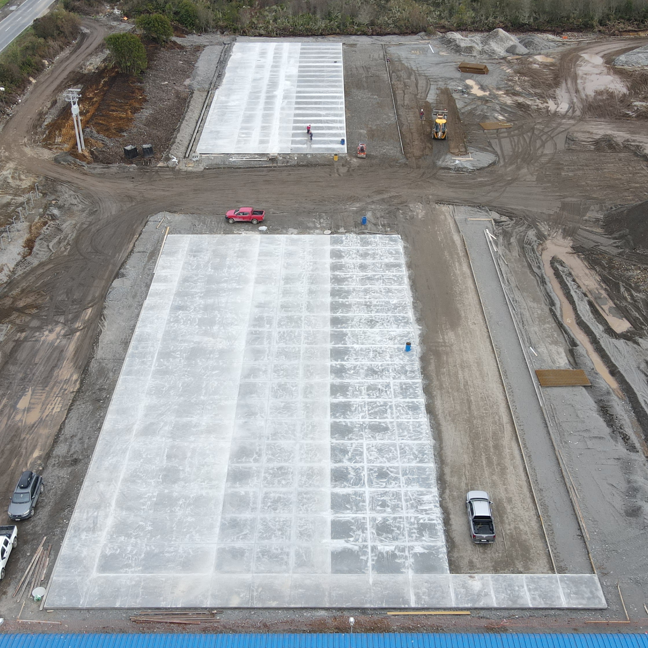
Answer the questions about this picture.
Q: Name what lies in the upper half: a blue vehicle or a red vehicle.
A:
red vehicle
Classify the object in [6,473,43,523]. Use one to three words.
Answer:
car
